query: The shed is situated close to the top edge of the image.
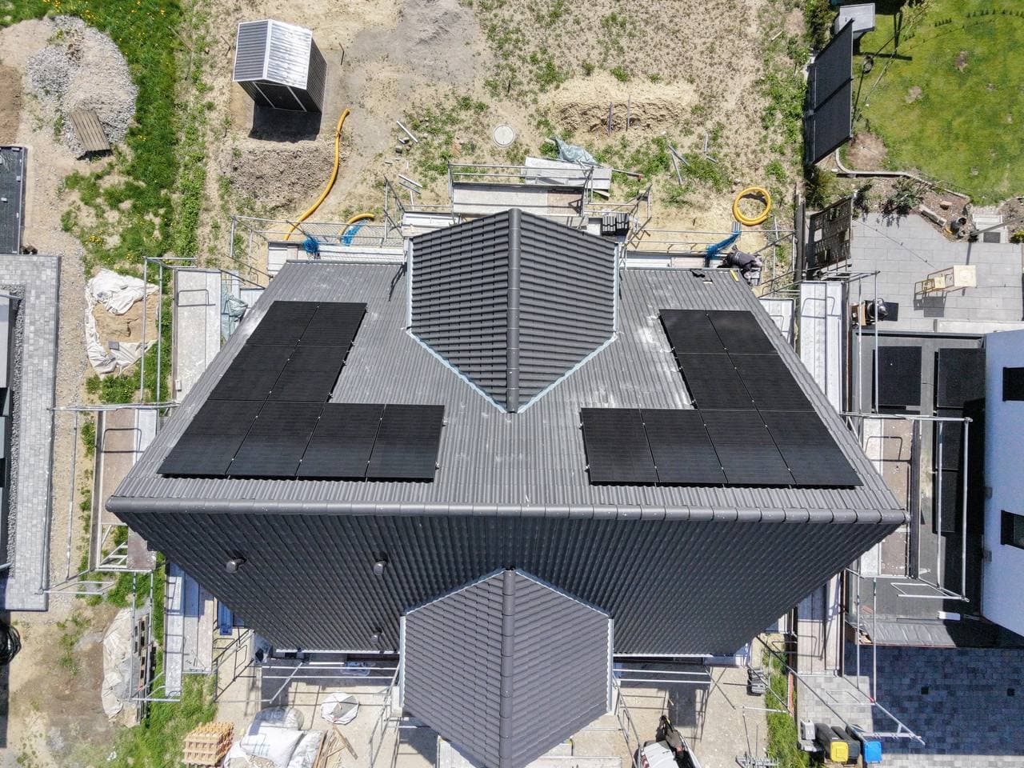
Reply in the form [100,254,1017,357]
[233,18,326,110]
